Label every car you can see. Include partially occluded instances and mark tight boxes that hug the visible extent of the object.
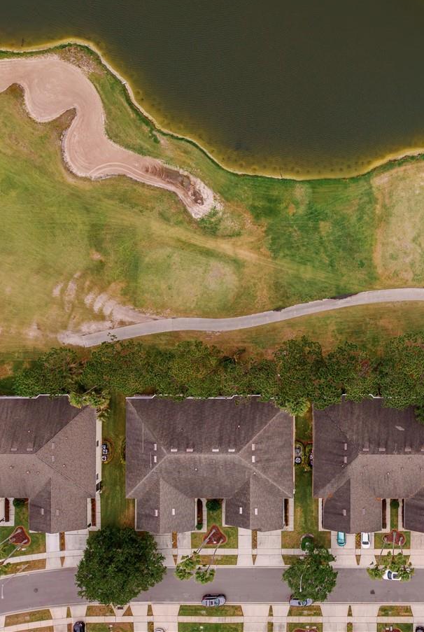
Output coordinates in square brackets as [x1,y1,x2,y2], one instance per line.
[382,569,402,581]
[415,624,424,632]
[290,595,313,608]
[335,532,346,549]
[202,594,226,607]
[73,618,86,632]
[360,532,372,551]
